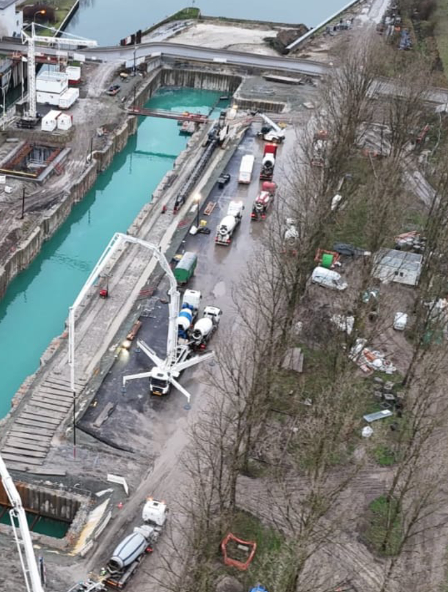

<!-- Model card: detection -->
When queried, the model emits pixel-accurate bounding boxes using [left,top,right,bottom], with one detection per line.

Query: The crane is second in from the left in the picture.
[173,114,234,213]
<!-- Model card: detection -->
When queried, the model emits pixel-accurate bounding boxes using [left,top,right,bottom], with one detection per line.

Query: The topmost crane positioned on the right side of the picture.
[256,111,286,142]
